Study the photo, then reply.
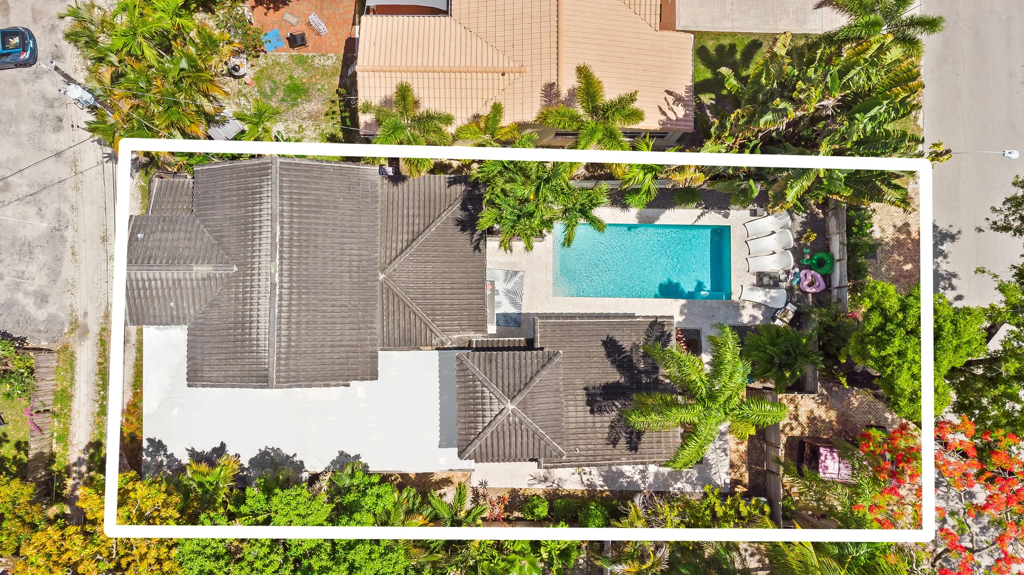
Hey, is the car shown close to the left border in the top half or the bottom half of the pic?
top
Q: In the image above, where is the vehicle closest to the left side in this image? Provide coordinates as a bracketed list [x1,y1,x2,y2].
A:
[0,30,44,77]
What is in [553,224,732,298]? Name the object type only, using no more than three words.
swimming pool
